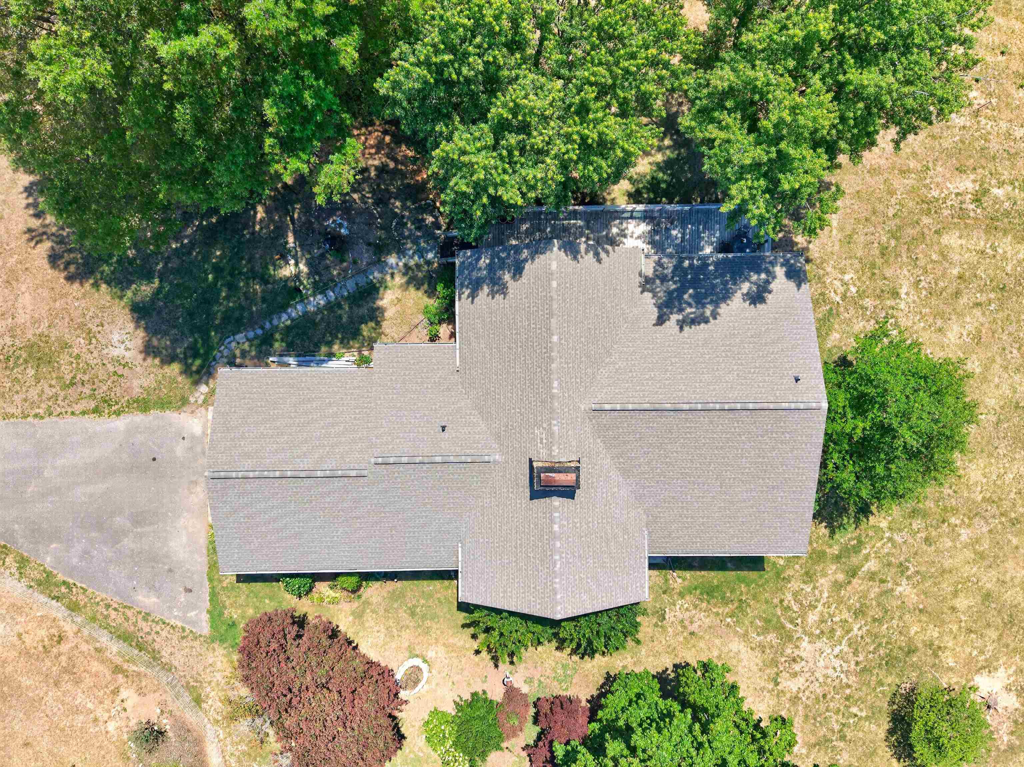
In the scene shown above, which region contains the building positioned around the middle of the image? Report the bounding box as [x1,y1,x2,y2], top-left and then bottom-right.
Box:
[206,238,829,619]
